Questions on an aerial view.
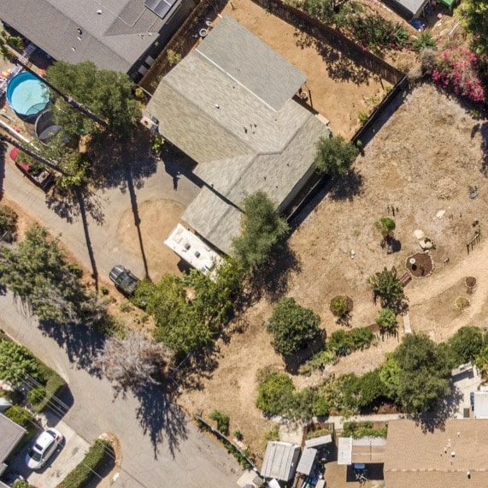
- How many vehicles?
4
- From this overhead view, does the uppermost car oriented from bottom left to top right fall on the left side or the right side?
left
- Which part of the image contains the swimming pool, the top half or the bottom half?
top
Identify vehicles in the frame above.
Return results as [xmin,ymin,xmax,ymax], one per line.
[5,148,53,188]
[21,426,64,470]
[100,259,143,303]
[153,218,240,285]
